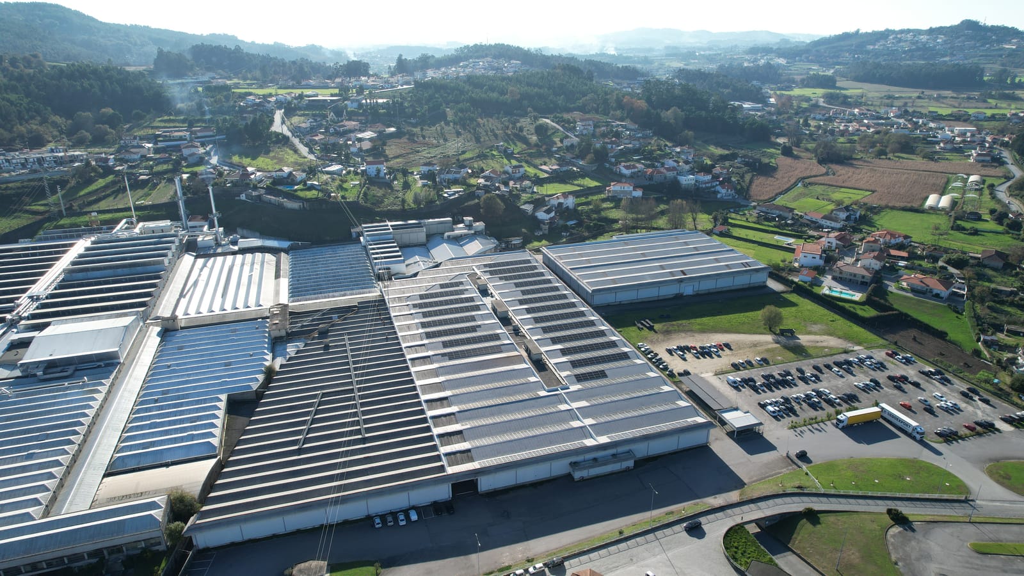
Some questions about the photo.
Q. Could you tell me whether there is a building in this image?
Yes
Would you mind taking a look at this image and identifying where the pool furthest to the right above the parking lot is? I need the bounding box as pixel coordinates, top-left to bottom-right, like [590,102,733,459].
[822,286,861,300]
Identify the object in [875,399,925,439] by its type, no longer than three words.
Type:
truck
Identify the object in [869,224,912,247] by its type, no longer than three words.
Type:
house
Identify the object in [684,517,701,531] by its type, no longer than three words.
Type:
car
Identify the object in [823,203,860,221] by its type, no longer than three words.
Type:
house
